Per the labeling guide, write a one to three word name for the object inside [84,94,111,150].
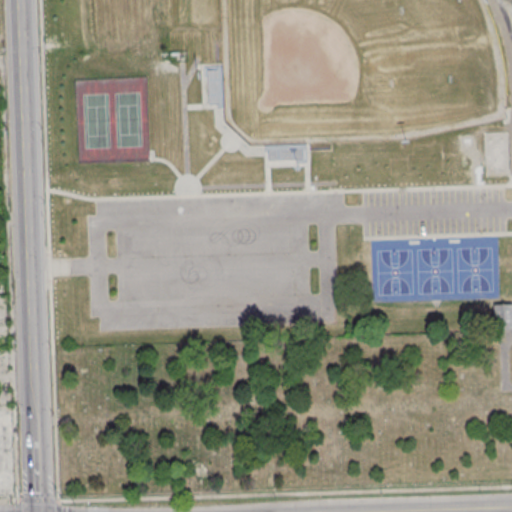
tennis court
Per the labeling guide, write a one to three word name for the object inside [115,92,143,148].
tennis court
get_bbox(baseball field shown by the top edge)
[256,6,361,114]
